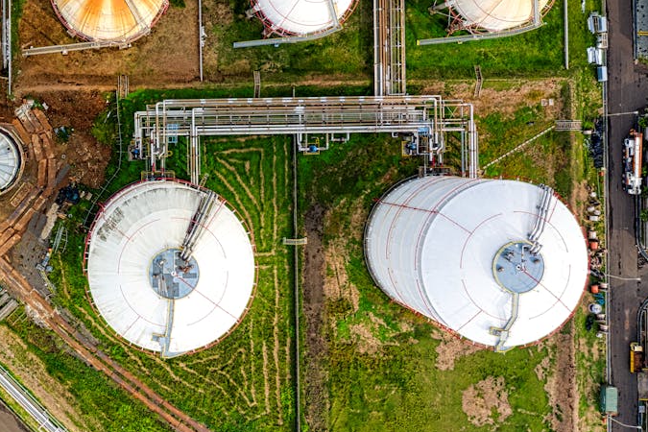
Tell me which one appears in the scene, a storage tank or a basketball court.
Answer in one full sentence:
I can see a storage tank in this picture.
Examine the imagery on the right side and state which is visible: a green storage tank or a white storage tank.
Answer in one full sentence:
Looking on the right side, you will find a white storage tank.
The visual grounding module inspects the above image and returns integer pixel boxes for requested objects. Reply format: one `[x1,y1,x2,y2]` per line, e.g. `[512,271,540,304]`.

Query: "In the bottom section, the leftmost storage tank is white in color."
[84,174,259,356]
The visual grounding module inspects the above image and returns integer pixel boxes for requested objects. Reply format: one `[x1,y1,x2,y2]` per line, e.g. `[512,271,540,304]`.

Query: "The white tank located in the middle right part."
[360,170,594,353]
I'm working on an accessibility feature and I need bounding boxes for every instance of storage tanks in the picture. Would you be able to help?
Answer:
[22,0,168,55]
[84,174,259,356]
[360,170,594,353]
[234,0,361,50]
[418,0,559,46]
[0,122,29,197]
